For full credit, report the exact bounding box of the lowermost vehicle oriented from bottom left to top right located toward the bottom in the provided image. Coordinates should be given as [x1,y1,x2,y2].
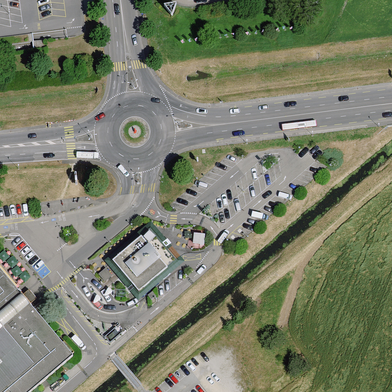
[50,376,68,390]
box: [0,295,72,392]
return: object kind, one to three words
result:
building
